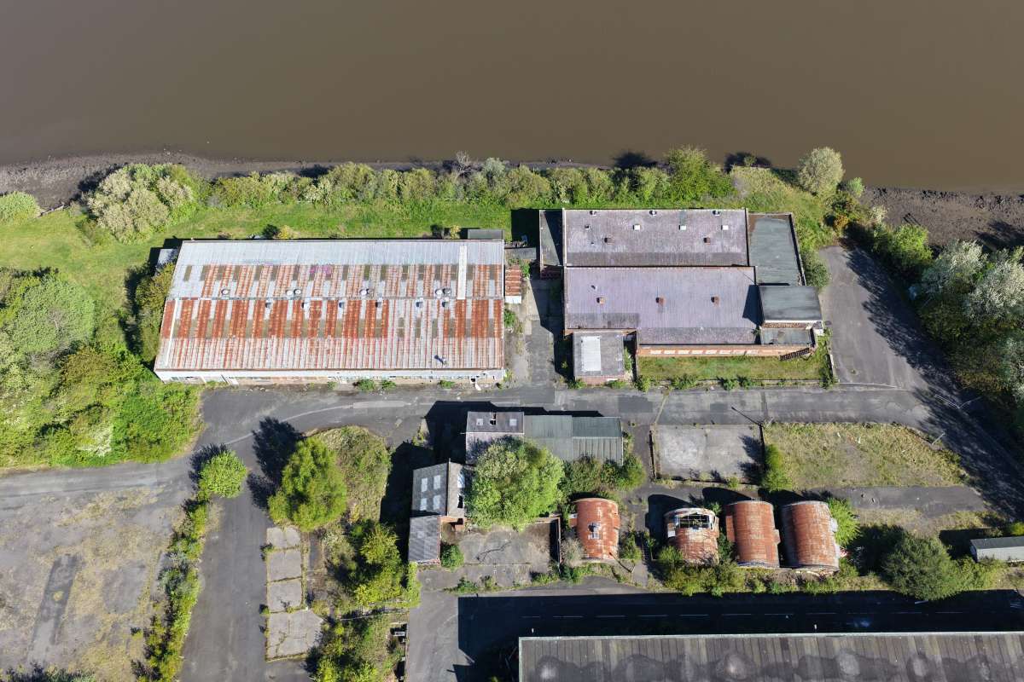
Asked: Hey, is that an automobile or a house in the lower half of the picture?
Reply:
house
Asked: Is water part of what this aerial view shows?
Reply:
Yes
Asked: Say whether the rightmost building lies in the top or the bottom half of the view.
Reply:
bottom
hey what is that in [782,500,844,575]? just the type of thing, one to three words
shed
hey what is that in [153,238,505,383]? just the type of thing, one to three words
shed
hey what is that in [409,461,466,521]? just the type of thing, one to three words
house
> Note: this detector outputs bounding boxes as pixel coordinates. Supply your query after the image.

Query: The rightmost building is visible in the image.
[965,540,1024,570]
